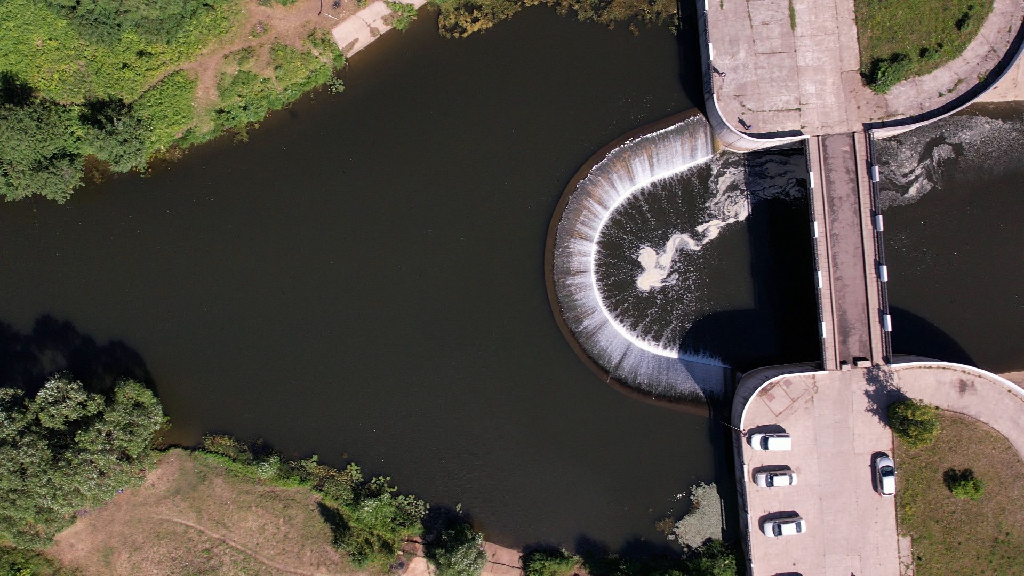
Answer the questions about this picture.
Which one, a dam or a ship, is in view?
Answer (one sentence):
There is a dam in the scene.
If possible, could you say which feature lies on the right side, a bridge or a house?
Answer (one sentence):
Visible on the right side is a bridge.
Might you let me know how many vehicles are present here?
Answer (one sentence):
My tally gives 4 vehicles in this view.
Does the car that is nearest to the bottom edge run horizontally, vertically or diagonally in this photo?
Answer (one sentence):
From this overhead view, the car that is nearest to the bottom edge appears to run horizontally.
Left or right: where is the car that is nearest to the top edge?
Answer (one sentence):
You can find the car that is nearest to the top edge on the right side of the picture.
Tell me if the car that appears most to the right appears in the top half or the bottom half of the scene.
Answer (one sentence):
The car that appears most to the right sits in the bottom half of the picture.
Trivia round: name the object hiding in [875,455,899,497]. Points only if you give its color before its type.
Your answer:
white car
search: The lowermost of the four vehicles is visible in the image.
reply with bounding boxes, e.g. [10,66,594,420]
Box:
[764,514,808,537]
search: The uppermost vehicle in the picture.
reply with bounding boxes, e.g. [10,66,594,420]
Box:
[751,432,794,452]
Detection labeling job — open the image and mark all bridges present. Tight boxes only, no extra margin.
[806,129,890,371]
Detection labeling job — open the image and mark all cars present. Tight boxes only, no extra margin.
[751,432,794,452]
[764,514,808,537]
[755,469,798,489]
[875,455,899,497]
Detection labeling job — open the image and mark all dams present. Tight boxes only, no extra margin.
[544,106,749,428]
